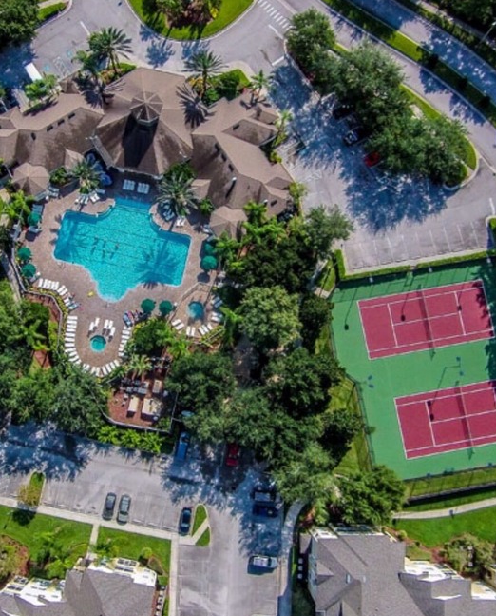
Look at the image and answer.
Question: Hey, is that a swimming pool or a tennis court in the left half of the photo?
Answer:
swimming pool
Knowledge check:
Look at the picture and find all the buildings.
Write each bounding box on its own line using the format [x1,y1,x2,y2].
[0,558,164,616]
[307,524,496,616]
[0,68,293,216]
